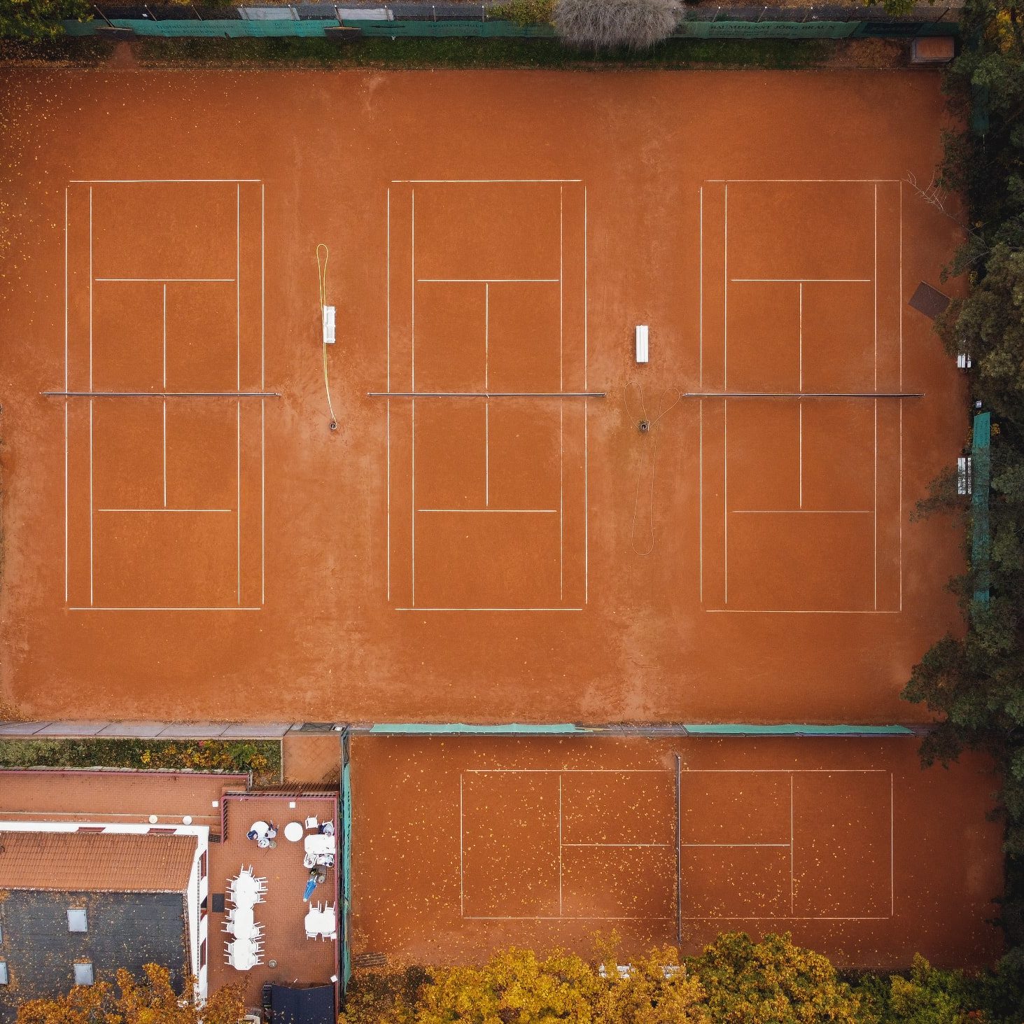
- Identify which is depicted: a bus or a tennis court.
tennis court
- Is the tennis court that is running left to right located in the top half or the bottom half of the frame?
bottom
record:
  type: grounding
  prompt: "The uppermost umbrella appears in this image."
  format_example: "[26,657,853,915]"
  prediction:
[302,872,320,900]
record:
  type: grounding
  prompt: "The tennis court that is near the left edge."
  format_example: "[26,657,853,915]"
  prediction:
[0,69,329,724]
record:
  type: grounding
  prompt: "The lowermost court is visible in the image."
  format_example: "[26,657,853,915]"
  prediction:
[350,724,1003,970]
